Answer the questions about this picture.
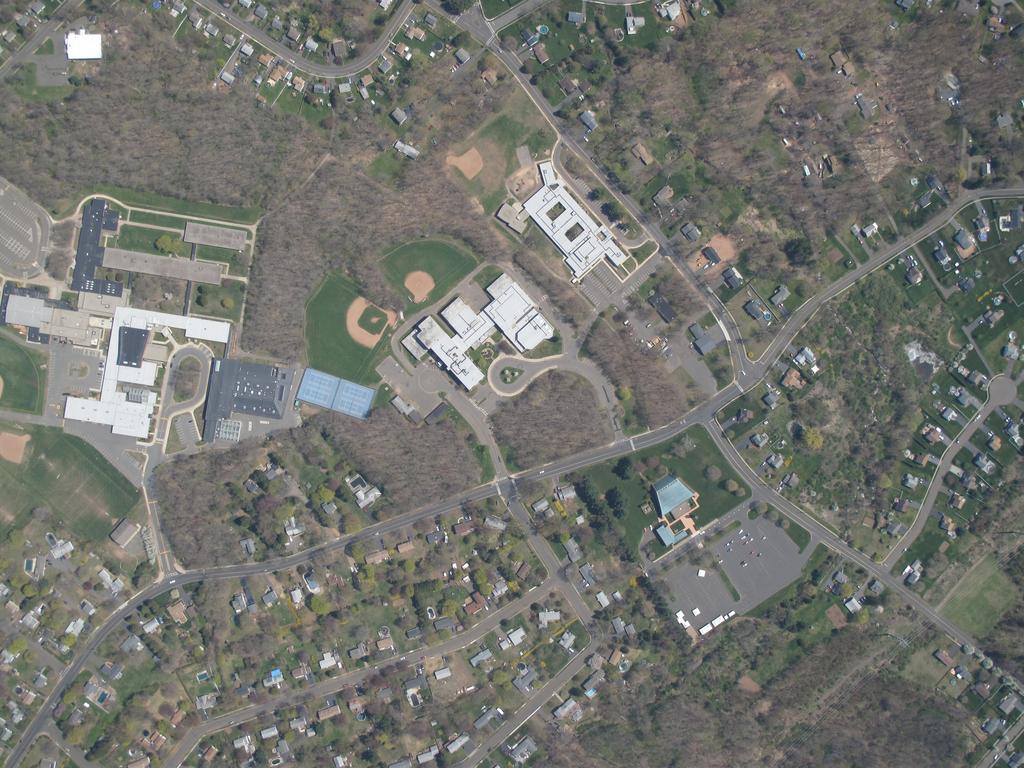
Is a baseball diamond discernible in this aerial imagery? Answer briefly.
Yes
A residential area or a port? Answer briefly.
residential area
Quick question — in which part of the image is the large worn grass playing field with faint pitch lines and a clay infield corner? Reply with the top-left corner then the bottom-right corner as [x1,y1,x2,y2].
[0,424,139,545]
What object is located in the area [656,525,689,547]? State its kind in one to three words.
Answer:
building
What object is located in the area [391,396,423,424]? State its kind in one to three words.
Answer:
shed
